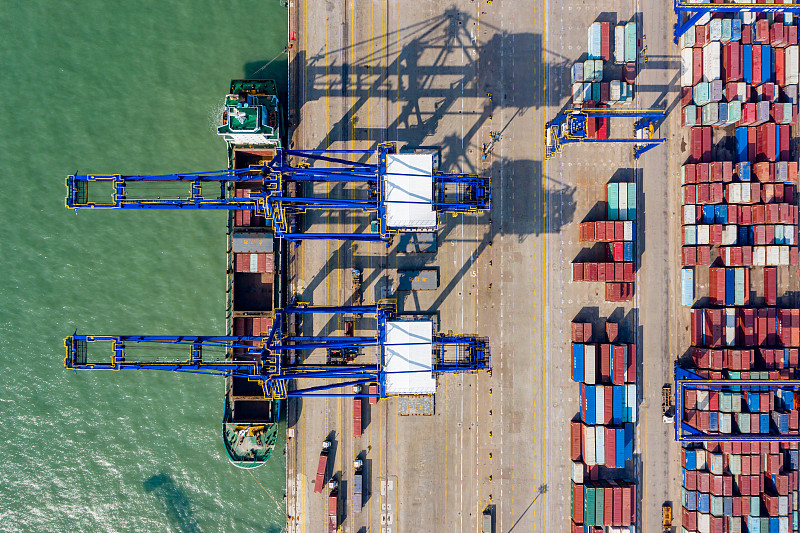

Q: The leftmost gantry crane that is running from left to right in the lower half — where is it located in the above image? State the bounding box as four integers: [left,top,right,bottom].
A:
[65,290,489,406]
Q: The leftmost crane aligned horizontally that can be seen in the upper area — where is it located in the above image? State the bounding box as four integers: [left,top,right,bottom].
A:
[65,139,489,253]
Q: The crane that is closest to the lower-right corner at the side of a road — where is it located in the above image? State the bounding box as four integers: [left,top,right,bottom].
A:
[673,360,800,439]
